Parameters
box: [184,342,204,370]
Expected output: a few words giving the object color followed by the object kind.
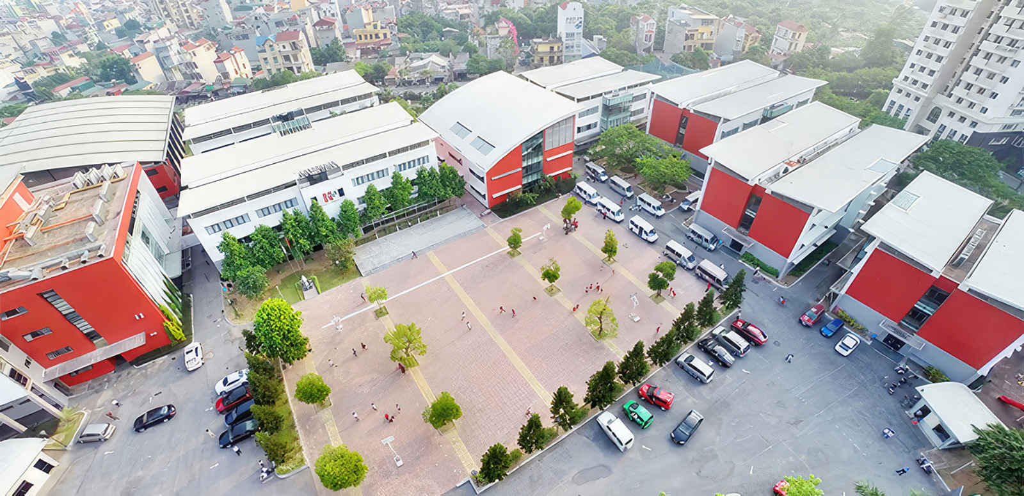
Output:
white car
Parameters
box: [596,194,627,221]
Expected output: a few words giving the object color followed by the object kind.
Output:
white vehicle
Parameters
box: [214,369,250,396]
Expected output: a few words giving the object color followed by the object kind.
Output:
white car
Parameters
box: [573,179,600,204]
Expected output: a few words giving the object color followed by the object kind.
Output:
white vehicle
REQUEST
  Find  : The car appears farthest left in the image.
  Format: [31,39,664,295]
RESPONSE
[75,423,118,446]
